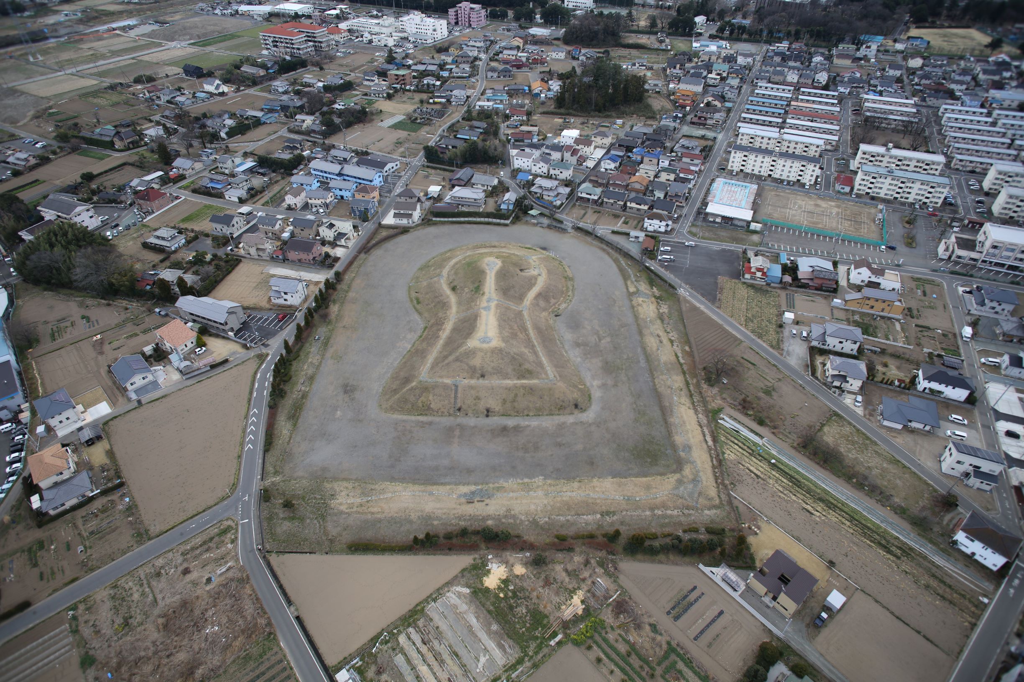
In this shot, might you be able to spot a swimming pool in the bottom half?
No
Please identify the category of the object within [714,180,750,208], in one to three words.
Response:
swimming pool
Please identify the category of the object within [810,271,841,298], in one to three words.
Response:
house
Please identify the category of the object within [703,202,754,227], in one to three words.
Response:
building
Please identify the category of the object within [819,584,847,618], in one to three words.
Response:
shed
